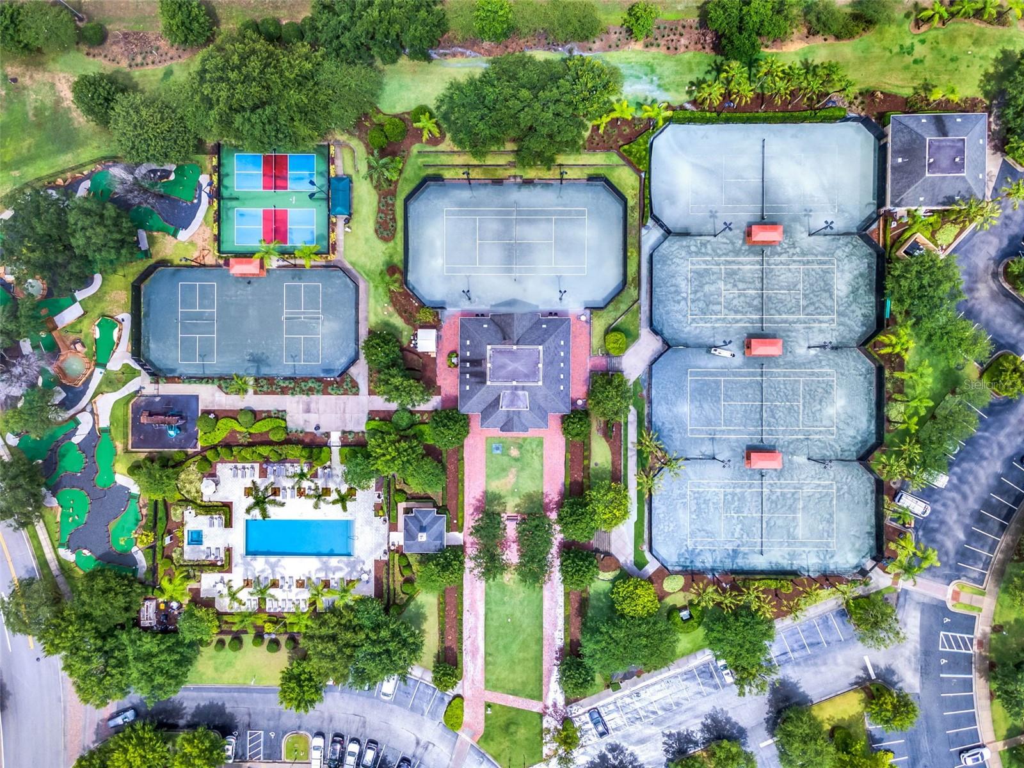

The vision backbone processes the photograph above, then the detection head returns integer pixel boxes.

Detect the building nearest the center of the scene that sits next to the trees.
[459,314,571,432]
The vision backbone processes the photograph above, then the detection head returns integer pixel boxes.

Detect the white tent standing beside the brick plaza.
[417,329,438,352]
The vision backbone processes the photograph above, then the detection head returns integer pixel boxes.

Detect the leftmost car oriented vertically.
[225,732,240,763]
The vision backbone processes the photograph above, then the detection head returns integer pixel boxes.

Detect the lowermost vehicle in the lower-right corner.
[957,745,989,765]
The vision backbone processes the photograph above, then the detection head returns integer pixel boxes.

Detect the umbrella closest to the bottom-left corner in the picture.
[202,480,216,495]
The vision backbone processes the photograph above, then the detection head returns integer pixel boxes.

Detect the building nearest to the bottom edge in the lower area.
[403,508,447,553]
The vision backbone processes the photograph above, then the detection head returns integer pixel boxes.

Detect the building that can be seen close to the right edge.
[883,113,988,209]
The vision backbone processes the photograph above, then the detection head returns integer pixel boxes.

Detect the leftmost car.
[107,705,139,728]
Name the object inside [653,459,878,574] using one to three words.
tennis court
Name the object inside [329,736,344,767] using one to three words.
car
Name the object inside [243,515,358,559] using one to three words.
swimming pool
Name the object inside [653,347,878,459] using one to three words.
tennis court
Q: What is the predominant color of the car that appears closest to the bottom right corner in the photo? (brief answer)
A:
white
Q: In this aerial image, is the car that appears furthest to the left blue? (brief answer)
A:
Yes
